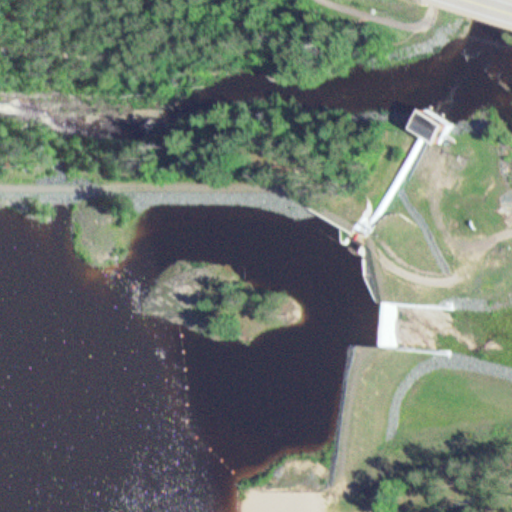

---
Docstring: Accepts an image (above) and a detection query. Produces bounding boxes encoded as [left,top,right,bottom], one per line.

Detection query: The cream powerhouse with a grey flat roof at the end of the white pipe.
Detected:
[404,108,456,150]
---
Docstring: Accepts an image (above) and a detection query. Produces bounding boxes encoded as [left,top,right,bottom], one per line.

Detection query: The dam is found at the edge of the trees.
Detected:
[0,190,454,487]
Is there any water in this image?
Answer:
Yes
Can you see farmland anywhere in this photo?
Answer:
No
